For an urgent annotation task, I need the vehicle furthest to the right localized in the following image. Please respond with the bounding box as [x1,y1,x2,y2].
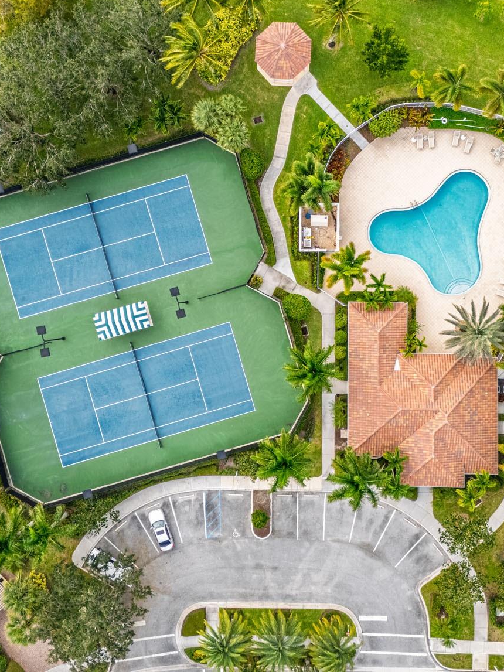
[150,509,173,551]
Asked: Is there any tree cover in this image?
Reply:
Yes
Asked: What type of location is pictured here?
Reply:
sports ground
